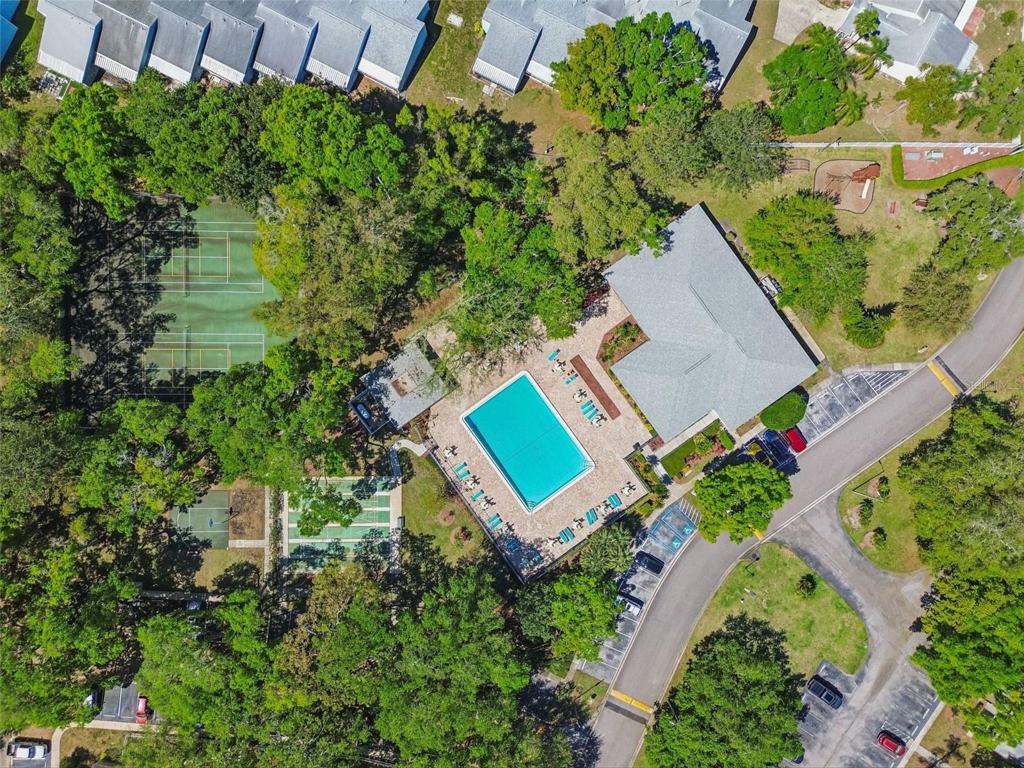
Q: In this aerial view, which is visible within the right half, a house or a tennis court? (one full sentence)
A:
There is a house within the right half.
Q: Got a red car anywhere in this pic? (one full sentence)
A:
Yes, a red car can be made out from above.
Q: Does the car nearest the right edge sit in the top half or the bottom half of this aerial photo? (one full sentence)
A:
The car nearest the right edge is in the bottom half of the image.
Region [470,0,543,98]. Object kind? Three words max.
house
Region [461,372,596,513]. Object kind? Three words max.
swimming pool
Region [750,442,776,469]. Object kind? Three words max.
car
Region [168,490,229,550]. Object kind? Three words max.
basketball court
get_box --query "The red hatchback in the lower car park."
[877,734,906,757]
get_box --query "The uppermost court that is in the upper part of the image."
[69,194,295,312]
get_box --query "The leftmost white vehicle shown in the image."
[7,741,49,760]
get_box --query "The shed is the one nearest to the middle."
[360,340,456,428]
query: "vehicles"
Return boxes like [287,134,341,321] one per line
[134,696,149,724]
[7,741,49,760]
[877,734,906,757]
[786,748,809,766]
[616,594,647,617]
[806,677,844,709]
[639,554,666,575]
[764,430,791,460]
[780,427,807,455]
[750,442,776,469]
